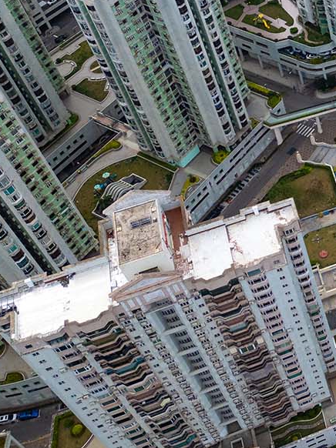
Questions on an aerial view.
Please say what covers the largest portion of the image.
buildings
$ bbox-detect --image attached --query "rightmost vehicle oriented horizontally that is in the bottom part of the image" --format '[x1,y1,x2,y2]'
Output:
[12,407,41,421]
